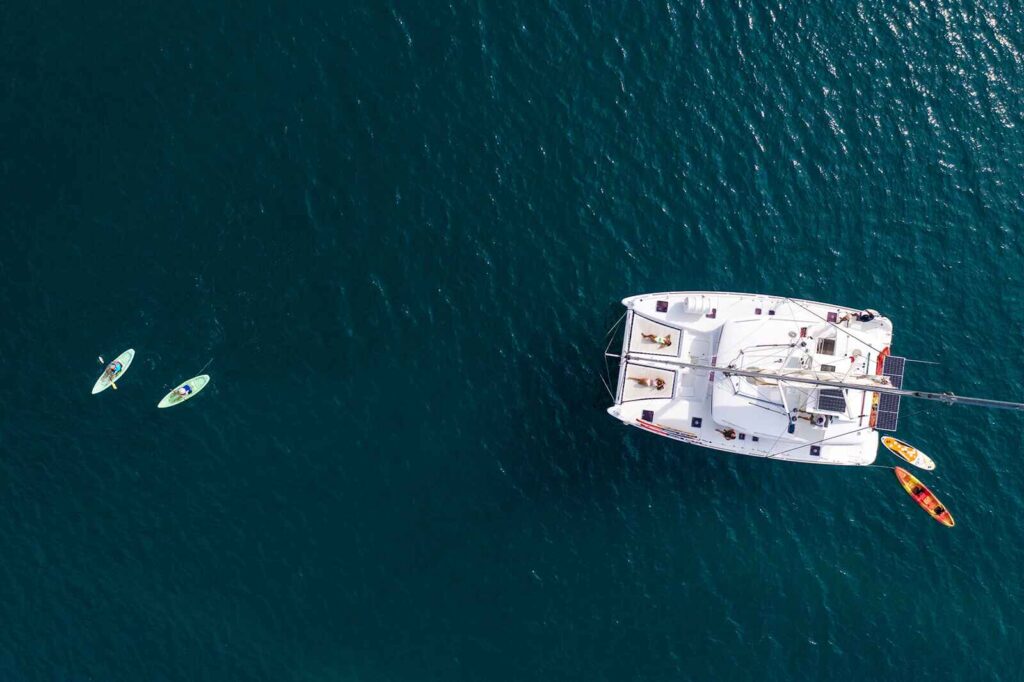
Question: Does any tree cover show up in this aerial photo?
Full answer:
No, no tree cover is visible.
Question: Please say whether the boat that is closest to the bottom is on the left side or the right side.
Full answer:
The boat that is closest to the bottom sits on the right side.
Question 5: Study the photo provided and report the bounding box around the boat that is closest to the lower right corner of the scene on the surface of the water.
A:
[893,468,956,526]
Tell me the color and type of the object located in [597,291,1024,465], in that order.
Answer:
white boat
